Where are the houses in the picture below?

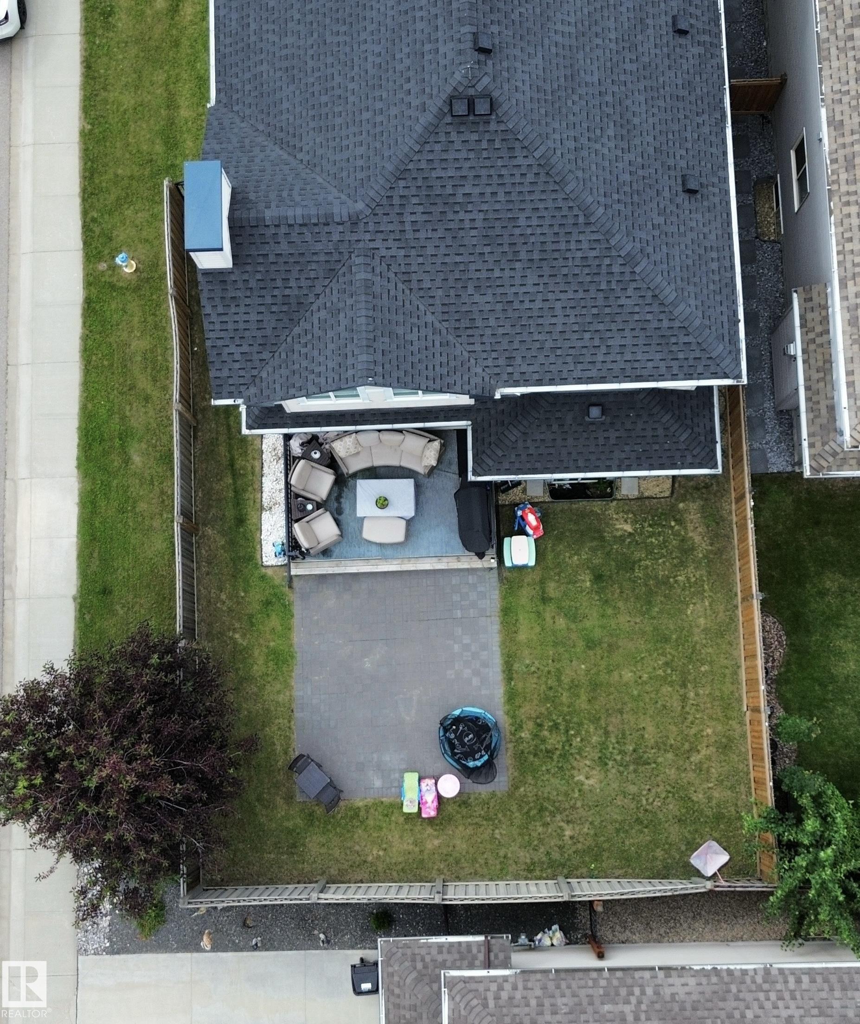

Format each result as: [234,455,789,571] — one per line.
[184,0,748,480]
[378,928,860,1024]
[764,0,860,478]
